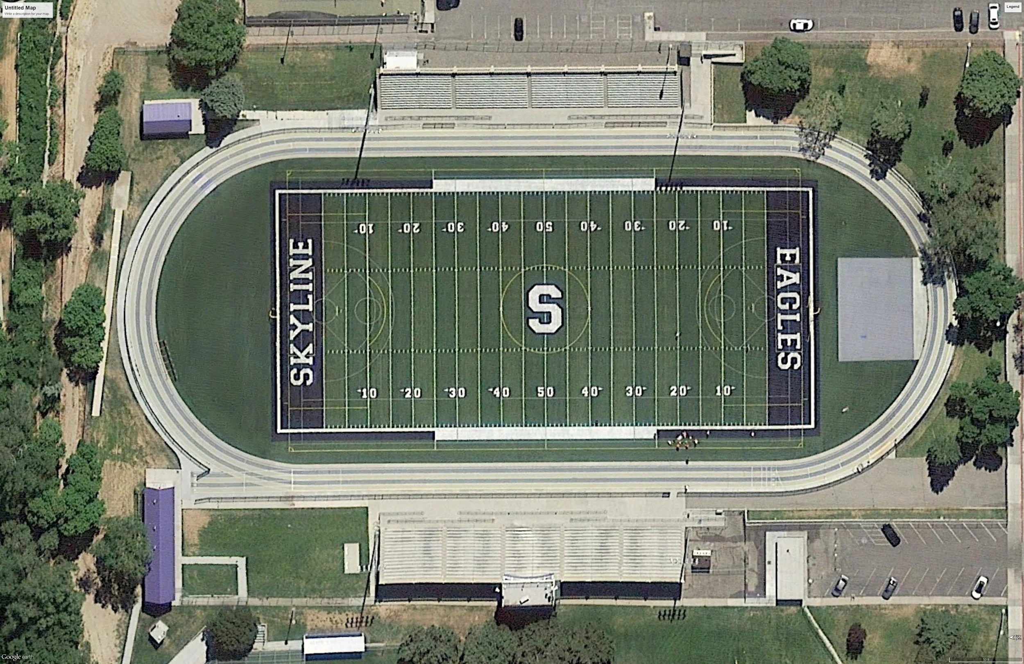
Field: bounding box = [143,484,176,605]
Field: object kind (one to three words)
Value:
building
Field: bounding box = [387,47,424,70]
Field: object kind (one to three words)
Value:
shed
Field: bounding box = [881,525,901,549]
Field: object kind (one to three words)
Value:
car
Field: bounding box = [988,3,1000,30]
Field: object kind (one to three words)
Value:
vehicle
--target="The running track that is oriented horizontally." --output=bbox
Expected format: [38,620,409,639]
[125,122,959,494]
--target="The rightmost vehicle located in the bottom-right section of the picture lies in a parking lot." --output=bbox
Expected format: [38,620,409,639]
[971,577,989,601]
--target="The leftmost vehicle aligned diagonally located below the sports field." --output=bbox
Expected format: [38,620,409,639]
[831,575,849,599]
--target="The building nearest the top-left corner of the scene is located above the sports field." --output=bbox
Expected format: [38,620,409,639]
[143,100,192,134]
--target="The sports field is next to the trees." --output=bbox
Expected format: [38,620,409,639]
[157,155,919,462]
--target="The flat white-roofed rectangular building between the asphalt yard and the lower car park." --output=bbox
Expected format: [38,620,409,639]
[776,533,805,601]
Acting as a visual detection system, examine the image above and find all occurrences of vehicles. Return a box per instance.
[436,0,460,8]
[971,577,989,601]
[881,525,901,549]
[790,20,813,33]
[831,575,849,599]
[881,578,898,602]
[988,3,1000,30]
[953,7,964,33]
[513,17,524,42]
[969,9,980,35]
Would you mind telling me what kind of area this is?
sports ground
